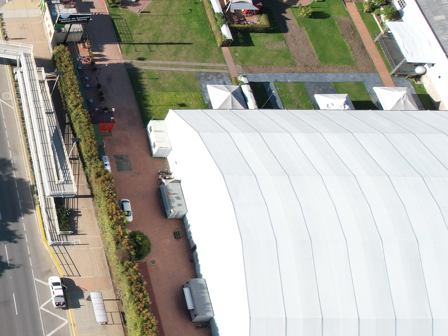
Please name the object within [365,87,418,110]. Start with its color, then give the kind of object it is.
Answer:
white tent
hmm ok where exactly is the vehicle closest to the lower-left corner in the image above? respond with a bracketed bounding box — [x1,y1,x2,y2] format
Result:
[48,275,69,311]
